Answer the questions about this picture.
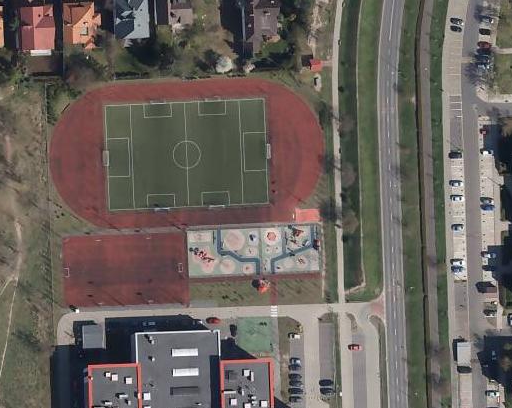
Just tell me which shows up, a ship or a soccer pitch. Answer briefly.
soccer pitch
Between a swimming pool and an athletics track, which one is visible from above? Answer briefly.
athletics track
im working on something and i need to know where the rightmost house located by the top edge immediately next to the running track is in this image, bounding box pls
[244,0,280,54]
